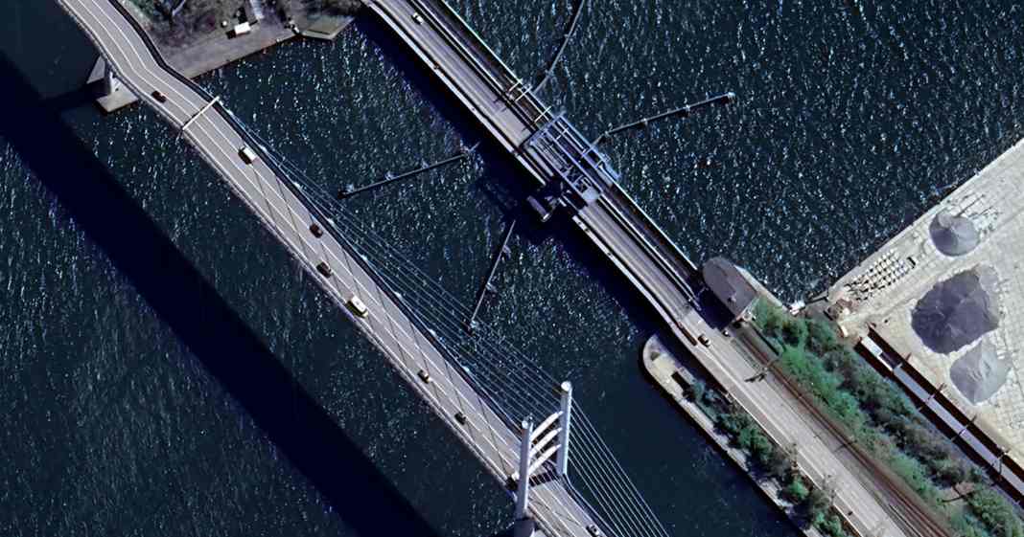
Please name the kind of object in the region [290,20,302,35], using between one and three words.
vehicle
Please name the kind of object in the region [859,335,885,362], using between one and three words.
rail car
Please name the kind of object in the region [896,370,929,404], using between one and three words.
rail car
